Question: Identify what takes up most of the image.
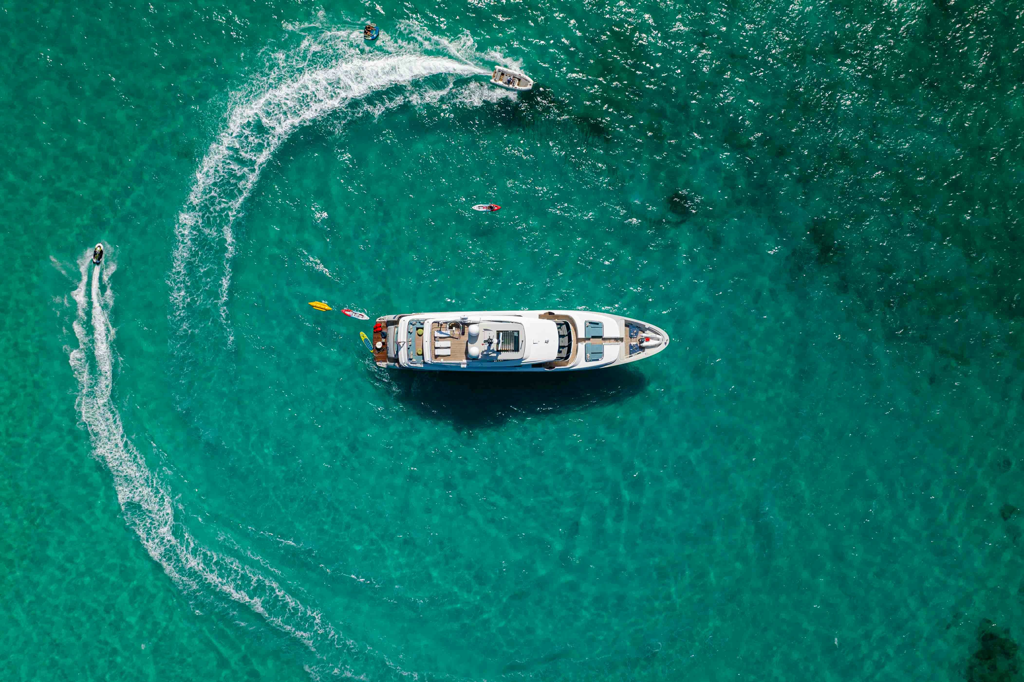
water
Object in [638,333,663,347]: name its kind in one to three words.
boat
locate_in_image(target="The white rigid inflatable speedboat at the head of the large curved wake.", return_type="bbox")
[489,63,535,89]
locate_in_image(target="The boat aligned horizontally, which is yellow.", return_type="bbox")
[306,300,332,312]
